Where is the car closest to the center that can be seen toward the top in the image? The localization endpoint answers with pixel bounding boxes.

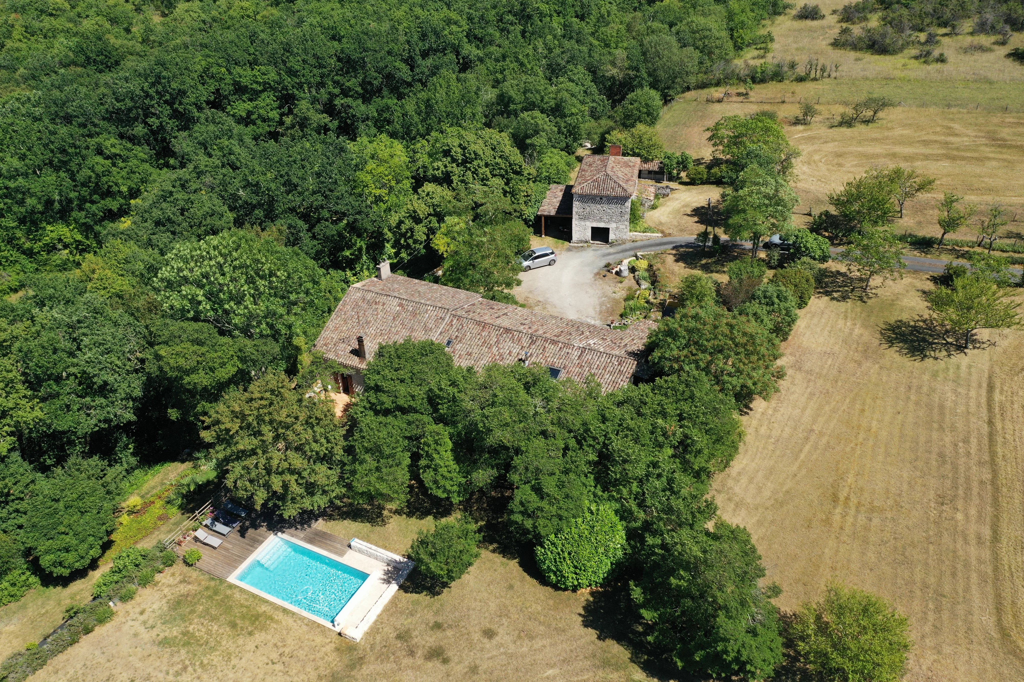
[517,246,557,271]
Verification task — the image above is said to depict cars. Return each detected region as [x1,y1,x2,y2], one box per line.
[517,246,557,271]
[768,231,792,248]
